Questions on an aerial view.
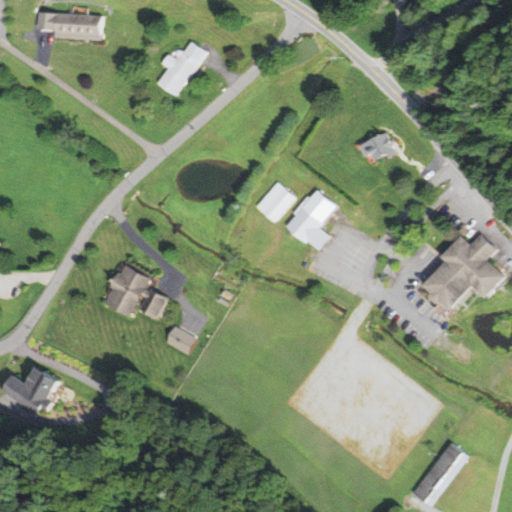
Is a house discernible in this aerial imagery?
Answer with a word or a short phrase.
Yes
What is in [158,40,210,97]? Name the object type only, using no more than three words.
house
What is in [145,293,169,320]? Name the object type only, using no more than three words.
building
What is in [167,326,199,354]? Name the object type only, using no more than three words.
shed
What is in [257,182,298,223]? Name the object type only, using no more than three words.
shed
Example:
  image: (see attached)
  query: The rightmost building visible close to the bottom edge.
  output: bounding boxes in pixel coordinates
[413,442,470,506]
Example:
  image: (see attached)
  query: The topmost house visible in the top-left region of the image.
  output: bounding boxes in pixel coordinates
[38,6,107,40]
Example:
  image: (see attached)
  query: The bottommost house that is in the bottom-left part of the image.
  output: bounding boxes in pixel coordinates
[3,368,63,412]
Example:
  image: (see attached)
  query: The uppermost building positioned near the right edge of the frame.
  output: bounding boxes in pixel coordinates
[423,234,508,310]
